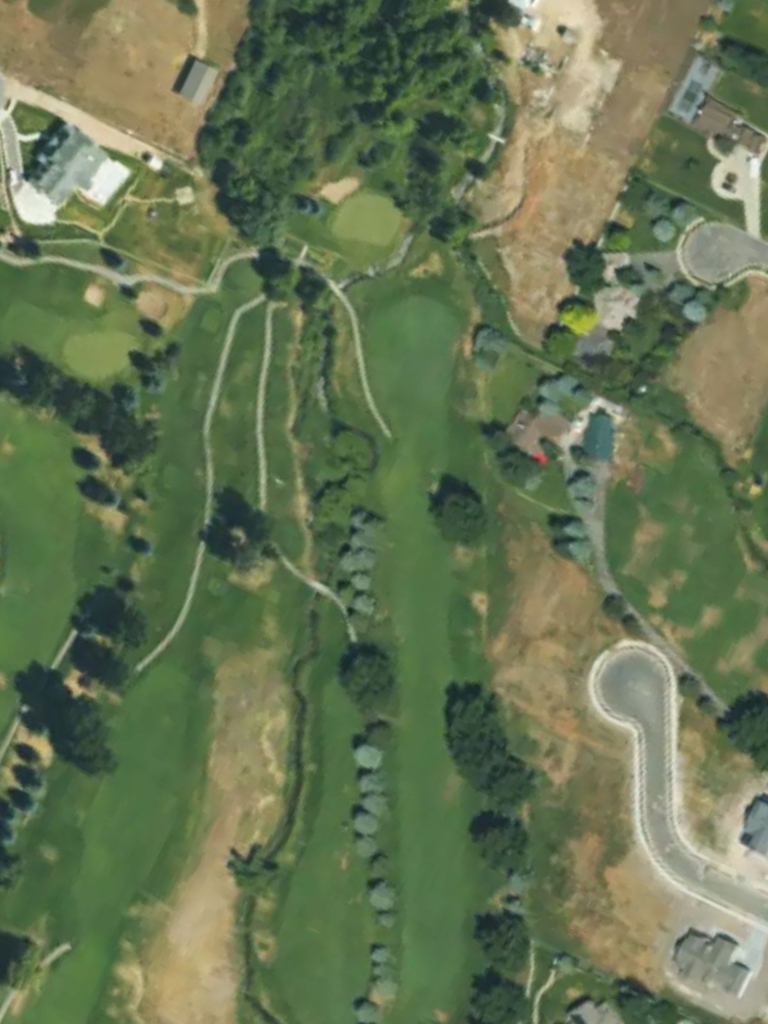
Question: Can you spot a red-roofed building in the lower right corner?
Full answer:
No, there's no red-roofed building to be seen in the lower right corner.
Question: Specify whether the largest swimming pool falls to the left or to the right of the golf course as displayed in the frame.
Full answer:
You can see the largest swimming pool positioned to the right of the golf course.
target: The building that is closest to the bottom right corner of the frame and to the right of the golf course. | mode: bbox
[674,936,752,1001]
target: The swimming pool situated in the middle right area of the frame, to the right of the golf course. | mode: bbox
[566,398,627,463]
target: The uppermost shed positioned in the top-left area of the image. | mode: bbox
[181,57,219,103]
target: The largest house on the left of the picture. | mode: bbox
[32,122,131,205]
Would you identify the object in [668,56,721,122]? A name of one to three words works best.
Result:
shed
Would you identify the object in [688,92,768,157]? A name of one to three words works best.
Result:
house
